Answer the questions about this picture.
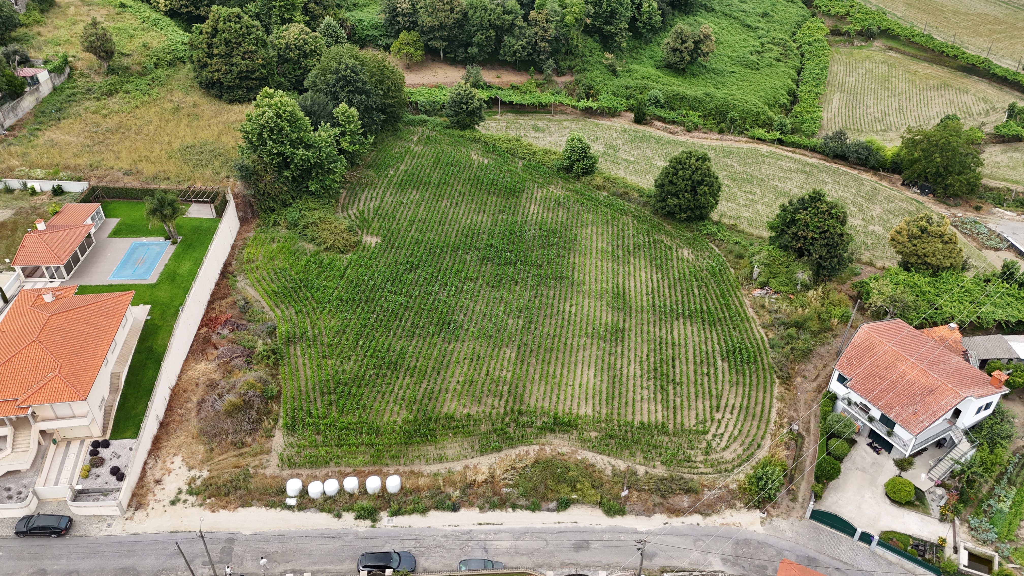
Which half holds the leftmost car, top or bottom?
bottom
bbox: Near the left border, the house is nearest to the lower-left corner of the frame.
[0,282,151,473]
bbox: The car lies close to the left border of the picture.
[7,512,74,540]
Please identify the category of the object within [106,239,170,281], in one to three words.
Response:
swimming pool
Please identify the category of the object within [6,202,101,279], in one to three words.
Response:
building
